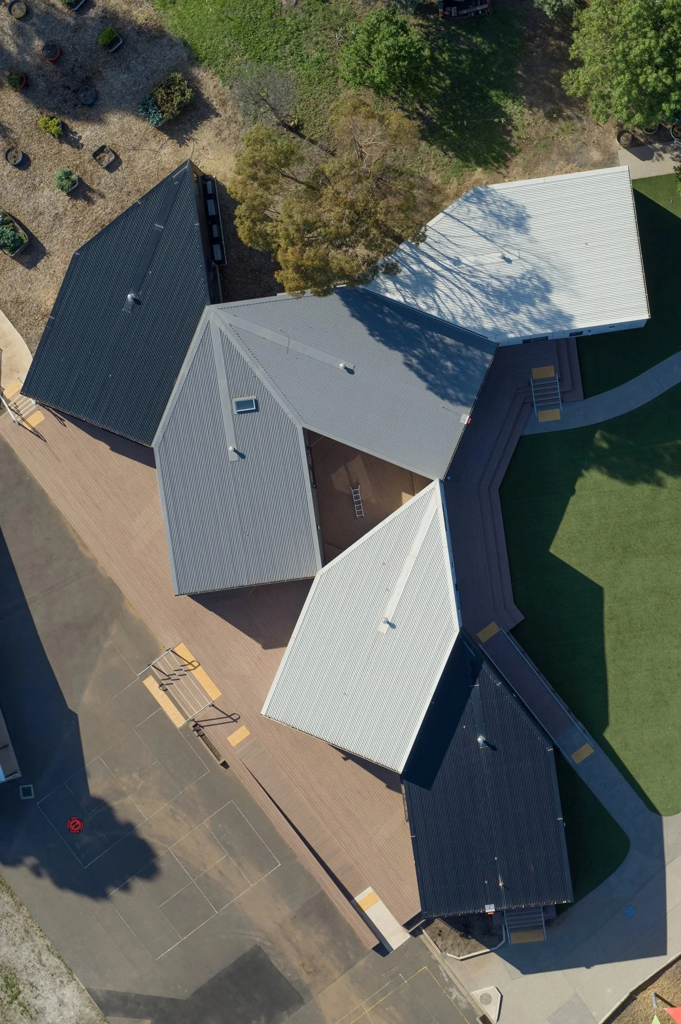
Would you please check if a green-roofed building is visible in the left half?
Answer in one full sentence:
No, looking in the left half, there is no green-roofed building.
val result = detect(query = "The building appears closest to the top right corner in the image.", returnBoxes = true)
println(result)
[360,165,653,349]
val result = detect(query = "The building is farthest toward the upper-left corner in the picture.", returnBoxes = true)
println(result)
[22,159,216,449]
